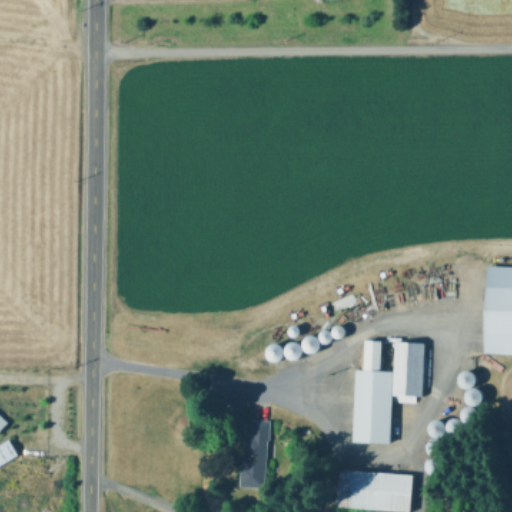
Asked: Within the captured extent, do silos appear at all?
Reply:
Yes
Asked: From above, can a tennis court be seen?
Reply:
No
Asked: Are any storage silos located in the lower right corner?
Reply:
Yes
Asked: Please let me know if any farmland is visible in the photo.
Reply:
Yes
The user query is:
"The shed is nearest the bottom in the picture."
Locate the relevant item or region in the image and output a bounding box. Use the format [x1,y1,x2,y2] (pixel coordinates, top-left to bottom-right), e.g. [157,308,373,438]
[338,472,413,512]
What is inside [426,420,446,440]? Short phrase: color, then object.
white silo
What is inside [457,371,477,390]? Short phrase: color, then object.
white silo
